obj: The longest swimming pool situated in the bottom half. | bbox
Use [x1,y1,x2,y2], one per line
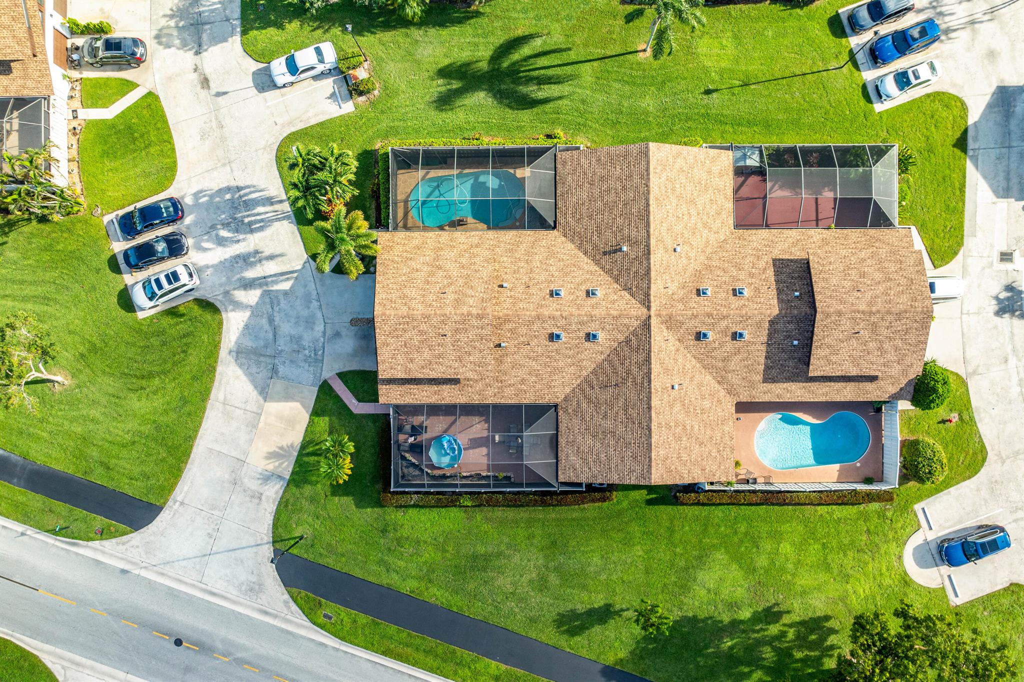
[754,410,872,472]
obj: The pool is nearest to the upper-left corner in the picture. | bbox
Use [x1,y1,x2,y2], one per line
[408,168,526,227]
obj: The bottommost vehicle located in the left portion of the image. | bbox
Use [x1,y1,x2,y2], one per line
[132,266,204,306]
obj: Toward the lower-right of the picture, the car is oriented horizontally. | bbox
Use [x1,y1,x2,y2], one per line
[935,523,1012,565]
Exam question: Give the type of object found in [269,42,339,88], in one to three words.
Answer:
car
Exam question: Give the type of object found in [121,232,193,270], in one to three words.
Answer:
car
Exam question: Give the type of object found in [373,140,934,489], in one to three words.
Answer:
house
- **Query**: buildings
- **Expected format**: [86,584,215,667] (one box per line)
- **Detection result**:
[373,140,934,489]
[0,0,71,107]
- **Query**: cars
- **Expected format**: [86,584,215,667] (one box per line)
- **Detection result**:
[926,276,966,303]
[121,232,193,270]
[121,198,188,237]
[81,34,151,69]
[269,42,339,88]
[844,0,917,37]
[872,59,944,102]
[132,266,204,306]
[867,18,943,67]
[935,523,1012,565]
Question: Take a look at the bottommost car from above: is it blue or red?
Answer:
blue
